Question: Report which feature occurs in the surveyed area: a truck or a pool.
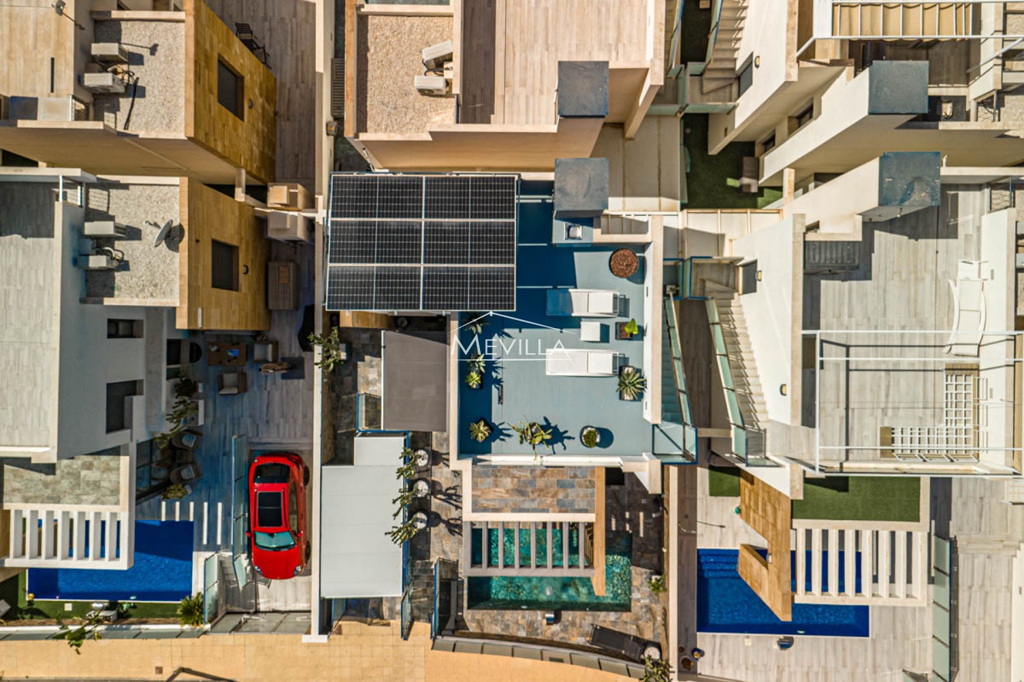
pool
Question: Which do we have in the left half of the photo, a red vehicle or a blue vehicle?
red vehicle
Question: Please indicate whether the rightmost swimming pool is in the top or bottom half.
bottom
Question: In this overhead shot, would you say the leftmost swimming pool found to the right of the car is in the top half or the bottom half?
bottom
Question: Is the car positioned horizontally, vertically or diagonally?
vertically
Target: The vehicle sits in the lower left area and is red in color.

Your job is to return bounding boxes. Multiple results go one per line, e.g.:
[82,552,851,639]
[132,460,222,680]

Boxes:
[244,451,309,578]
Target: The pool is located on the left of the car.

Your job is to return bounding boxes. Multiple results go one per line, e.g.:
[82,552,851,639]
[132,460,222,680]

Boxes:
[27,519,191,602]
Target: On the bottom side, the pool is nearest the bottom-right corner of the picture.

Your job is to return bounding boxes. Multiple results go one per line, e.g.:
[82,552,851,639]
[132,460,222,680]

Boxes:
[698,550,869,637]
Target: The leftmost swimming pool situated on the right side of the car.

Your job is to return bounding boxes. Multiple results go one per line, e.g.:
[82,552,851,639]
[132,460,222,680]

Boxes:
[468,529,631,604]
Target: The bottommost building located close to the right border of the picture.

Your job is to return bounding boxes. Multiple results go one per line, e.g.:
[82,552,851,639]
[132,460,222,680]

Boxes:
[683,151,1024,621]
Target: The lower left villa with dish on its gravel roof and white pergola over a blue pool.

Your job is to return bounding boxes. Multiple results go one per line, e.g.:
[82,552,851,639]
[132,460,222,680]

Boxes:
[0,168,270,569]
